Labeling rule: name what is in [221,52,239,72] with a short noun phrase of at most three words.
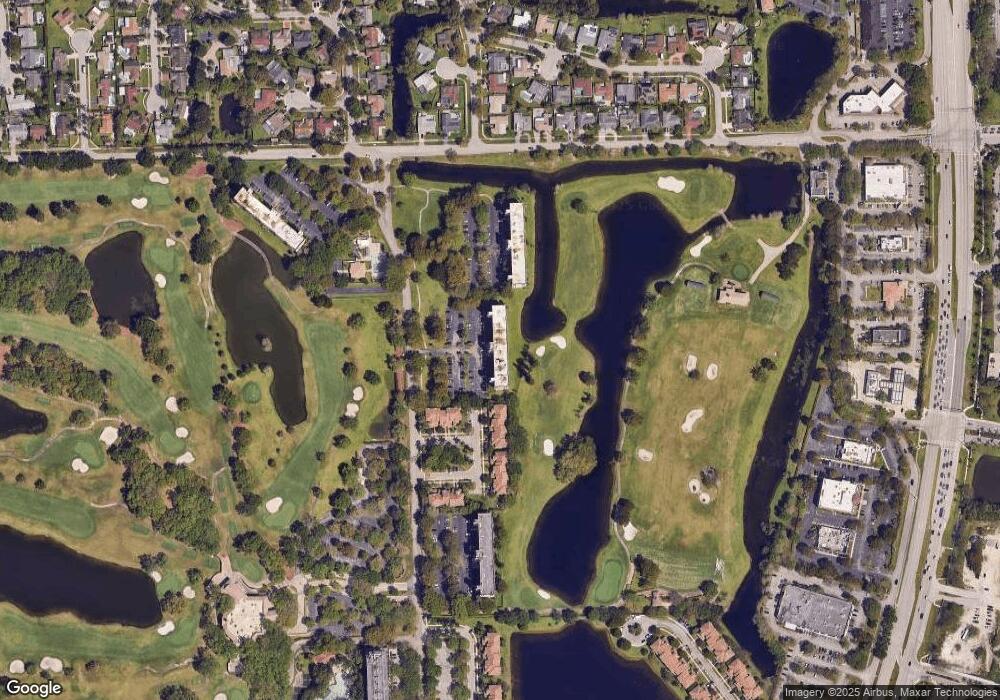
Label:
house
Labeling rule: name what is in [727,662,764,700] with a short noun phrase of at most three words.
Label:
house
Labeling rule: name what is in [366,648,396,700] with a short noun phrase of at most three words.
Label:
building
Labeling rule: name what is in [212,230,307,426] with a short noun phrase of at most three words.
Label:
pond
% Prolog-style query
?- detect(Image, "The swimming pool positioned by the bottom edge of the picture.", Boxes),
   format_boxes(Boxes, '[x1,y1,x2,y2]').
[321,663,349,700]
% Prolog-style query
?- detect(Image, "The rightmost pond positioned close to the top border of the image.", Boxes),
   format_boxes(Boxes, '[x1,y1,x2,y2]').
[768,21,835,122]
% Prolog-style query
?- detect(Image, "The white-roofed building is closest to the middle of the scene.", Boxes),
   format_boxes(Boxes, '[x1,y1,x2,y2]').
[487,305,508,391]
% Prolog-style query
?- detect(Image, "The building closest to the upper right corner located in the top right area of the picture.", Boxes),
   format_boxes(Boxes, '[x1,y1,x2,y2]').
[843,81,904,114]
